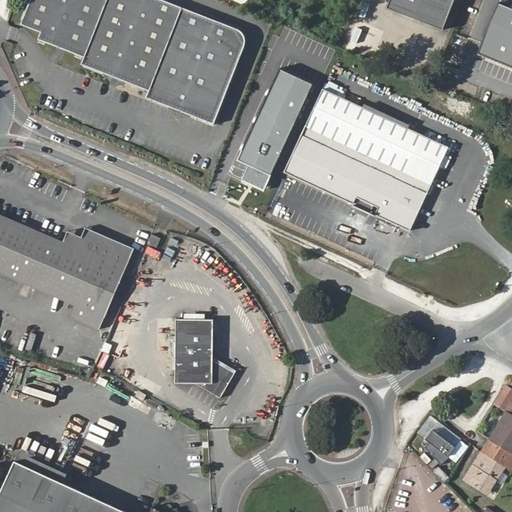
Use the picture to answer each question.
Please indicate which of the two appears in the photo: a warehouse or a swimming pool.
warehouse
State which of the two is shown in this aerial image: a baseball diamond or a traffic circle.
traffic circle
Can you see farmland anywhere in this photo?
No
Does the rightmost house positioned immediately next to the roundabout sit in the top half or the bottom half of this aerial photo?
bottom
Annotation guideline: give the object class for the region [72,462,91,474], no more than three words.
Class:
vehicle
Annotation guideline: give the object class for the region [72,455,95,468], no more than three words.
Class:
vehicle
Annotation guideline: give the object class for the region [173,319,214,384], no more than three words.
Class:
building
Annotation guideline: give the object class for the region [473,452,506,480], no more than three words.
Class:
house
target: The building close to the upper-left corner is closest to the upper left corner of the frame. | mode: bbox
[21,0,108,58]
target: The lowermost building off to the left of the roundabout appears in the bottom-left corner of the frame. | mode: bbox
[0,460,127,512]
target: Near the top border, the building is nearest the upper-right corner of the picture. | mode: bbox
[478,3,512,70]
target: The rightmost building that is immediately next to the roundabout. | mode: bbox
[418,416,468,465]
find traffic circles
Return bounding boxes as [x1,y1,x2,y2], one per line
[281,372,395,486]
